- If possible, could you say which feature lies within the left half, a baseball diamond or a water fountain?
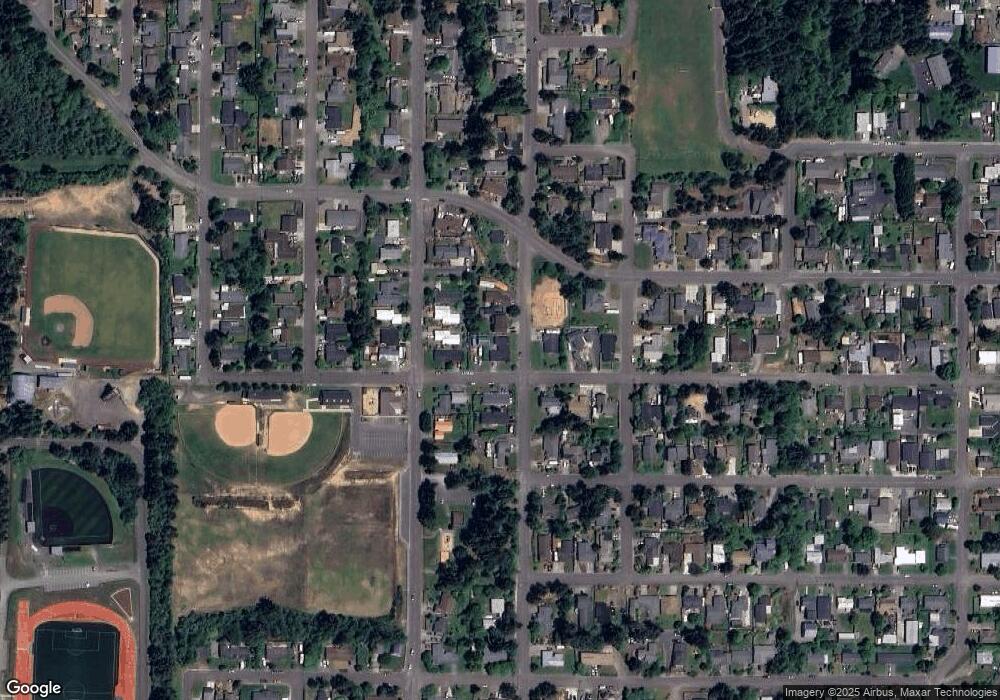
baseball diamond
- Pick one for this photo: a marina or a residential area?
residential area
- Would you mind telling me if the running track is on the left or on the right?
left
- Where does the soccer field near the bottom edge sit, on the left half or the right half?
left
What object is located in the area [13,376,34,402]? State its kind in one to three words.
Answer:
building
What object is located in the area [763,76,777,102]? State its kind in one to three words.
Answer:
house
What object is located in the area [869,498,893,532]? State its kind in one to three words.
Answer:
house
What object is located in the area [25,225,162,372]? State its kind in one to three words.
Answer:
baseball field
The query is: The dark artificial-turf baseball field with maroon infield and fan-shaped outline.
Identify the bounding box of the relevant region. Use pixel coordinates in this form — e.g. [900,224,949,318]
[26,468,113,547]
